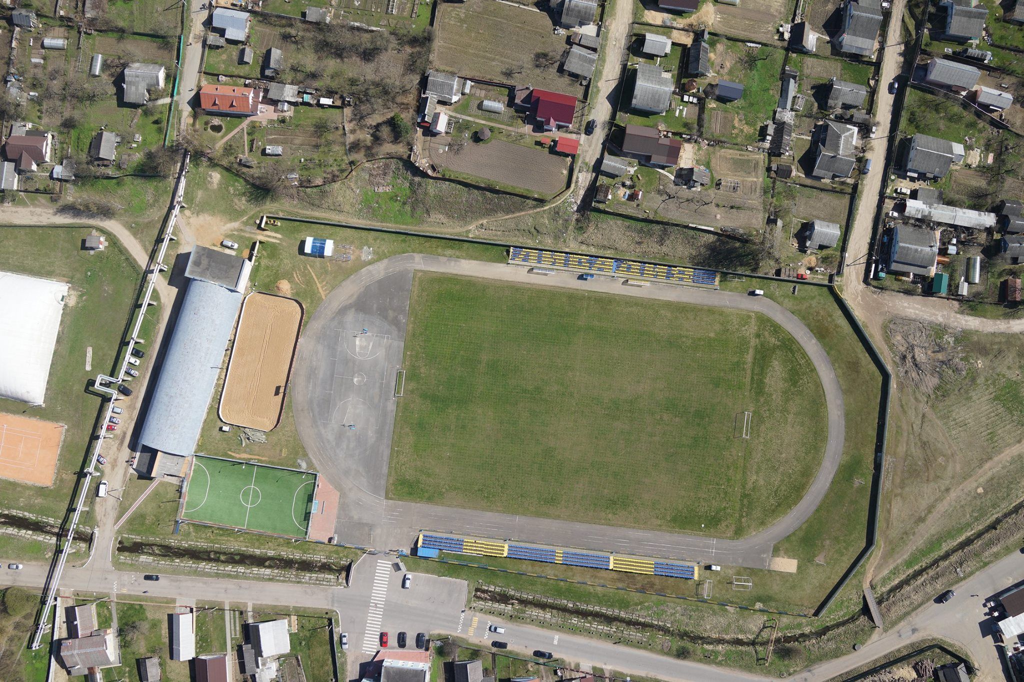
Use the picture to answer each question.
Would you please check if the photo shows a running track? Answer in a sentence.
Yes, there is a running track in the image.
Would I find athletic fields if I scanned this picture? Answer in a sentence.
Yes, looking at the shot, I can spot an athletic field.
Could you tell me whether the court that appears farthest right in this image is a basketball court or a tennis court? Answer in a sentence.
I'd identify the court that appears farthest right as a basketball court.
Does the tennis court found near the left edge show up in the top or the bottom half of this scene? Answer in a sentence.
Seen from above, the tennis court found near the left edge lies in the bottom half of the view.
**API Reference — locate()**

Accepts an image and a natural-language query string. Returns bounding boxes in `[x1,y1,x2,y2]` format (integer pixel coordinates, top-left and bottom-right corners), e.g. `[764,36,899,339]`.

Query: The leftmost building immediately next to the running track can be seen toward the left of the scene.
[132,244,258,478]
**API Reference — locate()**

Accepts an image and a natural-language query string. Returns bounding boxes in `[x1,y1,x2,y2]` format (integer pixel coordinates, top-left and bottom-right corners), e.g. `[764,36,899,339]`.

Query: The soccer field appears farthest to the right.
[385,271,827,539]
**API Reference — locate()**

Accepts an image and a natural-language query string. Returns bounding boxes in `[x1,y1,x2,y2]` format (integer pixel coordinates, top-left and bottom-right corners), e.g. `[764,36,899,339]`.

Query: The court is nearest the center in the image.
[317,271,414,498]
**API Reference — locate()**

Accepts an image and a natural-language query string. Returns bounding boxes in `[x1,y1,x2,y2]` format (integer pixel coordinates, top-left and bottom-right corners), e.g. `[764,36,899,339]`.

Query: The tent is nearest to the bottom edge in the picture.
[304,237,336,257]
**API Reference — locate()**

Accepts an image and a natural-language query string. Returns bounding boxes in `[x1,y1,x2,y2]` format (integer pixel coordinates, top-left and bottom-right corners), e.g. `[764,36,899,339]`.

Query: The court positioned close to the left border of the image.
[0,412,68,489]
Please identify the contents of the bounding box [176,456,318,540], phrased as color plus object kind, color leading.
green sports field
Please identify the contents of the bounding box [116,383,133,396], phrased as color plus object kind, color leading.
black vehicle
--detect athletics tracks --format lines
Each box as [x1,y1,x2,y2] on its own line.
[292,254,845,569]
